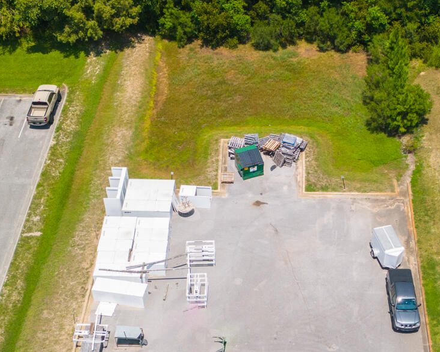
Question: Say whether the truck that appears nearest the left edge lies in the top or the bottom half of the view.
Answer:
top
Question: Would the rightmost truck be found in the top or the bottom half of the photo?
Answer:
bottom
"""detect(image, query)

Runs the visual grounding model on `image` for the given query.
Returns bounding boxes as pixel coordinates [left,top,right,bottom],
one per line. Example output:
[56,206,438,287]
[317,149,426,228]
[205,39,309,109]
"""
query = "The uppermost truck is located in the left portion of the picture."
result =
[24,78,61,125]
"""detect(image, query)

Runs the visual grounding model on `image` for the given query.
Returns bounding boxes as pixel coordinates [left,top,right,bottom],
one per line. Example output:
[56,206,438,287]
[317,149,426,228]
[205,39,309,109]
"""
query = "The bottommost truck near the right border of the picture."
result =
[387,260,424,328]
